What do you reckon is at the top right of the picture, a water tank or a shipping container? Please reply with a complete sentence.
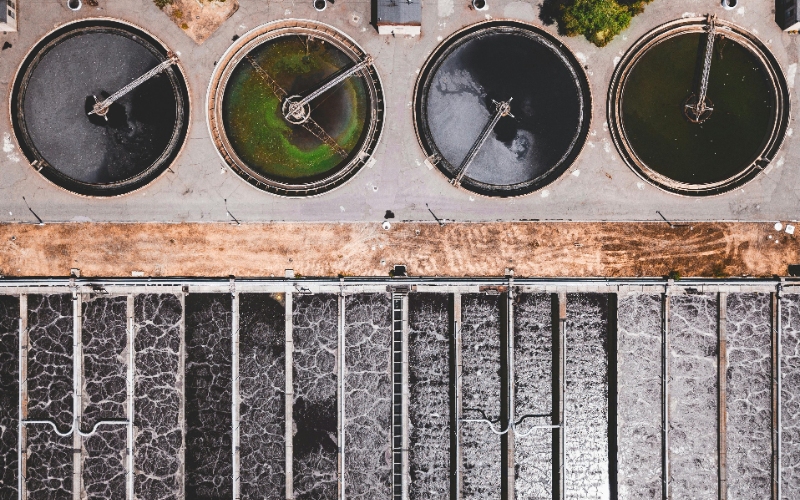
The feature located at the top right of the picture is a water tank.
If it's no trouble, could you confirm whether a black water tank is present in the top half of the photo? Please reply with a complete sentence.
Yes, looking in the top half of the photo, one can make out a black water tank.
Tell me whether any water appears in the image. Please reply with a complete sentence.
Yes, water can be seen from above here.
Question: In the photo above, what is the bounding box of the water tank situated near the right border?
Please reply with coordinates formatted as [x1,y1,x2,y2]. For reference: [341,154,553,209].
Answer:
[607,16,789,198]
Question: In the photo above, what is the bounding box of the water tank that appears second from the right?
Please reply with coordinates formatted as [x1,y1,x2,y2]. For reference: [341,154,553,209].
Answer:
[412,18,593,198]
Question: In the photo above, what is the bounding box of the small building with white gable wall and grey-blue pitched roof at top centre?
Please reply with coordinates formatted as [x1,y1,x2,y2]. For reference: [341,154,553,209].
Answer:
[377,0,423,34]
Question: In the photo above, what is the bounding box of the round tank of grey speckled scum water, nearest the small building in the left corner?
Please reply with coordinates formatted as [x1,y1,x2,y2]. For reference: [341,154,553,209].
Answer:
[10,17,191,197]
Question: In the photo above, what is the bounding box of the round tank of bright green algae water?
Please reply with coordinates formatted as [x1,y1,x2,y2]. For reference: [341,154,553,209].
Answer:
[205,18,386,198]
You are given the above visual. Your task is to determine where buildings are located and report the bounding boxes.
[783,0,800,30]
[377,0,423,34]
[0,0,17,31]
